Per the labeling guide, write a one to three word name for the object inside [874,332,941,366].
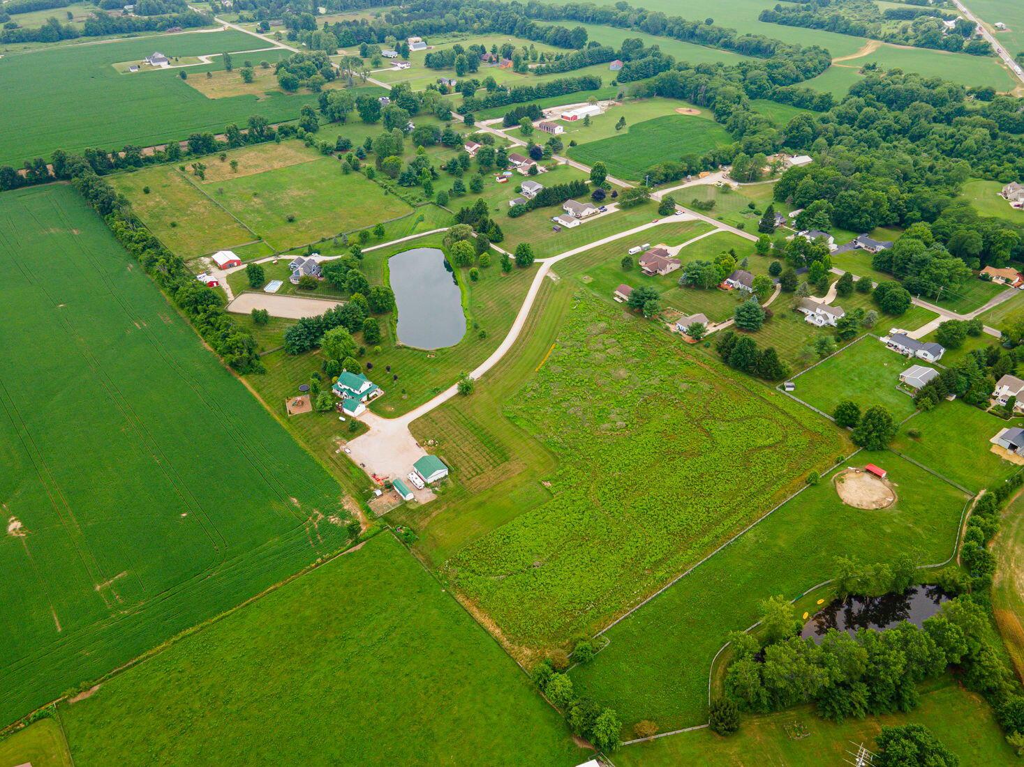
house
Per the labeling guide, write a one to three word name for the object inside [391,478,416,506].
shed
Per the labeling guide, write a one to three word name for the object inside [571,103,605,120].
barn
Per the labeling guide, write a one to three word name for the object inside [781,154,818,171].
building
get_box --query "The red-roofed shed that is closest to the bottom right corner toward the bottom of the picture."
[863,460,891,482]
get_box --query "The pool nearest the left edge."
[259,279,287,295]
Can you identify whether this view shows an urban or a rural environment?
rural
